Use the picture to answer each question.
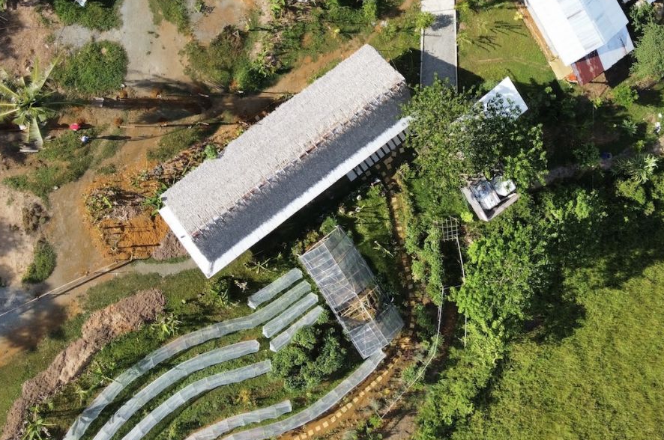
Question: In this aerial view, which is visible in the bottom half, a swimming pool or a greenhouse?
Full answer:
You can see a greenhouse in the bottom half.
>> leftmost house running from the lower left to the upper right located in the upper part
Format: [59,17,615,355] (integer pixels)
[157,43,411,277]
